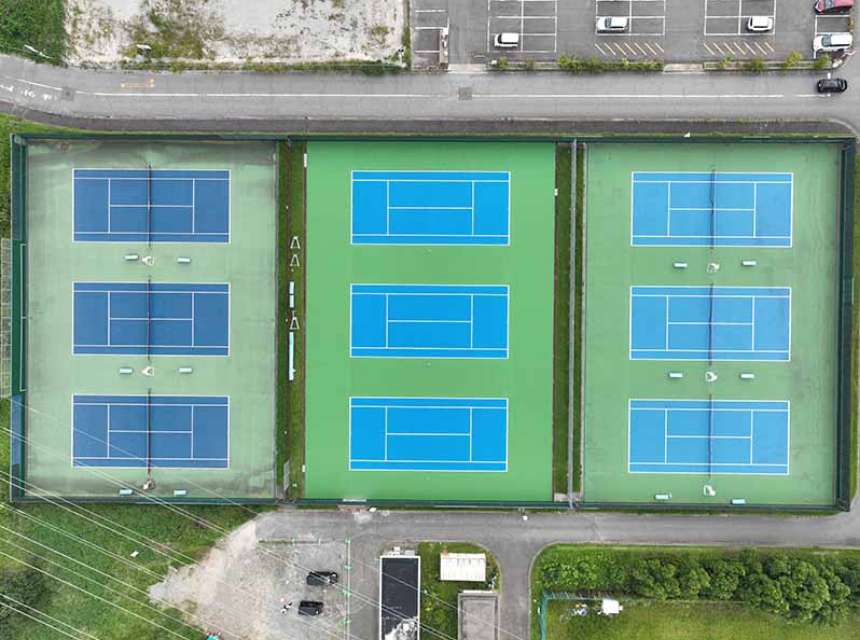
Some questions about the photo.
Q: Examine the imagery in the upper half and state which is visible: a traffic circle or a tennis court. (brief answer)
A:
tennis court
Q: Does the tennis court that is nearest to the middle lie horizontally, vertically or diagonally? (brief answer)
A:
horizontally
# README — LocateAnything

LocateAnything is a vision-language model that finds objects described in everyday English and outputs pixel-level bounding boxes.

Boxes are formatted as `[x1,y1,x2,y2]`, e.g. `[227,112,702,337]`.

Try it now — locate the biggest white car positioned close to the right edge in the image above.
[814,34,851,52]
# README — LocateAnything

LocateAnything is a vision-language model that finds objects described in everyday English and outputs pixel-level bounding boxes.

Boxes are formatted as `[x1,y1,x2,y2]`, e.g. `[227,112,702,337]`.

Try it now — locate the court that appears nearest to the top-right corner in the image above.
[632,172,793,247]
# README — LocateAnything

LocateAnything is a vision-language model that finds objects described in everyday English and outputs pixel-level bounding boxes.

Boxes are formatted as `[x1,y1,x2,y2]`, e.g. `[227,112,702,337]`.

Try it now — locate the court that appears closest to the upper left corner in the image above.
[73,169,230,243]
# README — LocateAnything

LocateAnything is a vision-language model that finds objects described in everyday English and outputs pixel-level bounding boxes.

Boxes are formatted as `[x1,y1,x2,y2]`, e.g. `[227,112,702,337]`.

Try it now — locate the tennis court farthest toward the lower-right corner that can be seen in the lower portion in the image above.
[629,400,790,475]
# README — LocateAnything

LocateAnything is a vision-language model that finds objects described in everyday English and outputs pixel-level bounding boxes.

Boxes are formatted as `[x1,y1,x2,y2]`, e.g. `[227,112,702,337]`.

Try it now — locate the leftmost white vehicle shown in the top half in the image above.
[495,34,519,50]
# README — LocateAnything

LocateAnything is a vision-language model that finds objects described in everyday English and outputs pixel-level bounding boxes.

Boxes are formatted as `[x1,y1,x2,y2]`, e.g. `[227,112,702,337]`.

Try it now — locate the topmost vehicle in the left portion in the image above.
[308,569,338,585]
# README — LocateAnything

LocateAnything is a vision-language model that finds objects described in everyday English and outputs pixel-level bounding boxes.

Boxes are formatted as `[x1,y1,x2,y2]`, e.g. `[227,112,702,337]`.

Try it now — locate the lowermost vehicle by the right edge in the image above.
[815,78,847,93]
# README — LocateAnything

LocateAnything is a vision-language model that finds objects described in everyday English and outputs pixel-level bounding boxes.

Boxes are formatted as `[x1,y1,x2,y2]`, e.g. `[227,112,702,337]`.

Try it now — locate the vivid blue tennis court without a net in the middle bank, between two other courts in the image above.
[350,284,509,359]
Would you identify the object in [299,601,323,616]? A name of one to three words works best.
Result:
car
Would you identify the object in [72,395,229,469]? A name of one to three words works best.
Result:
tennis court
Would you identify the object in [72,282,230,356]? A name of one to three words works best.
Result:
tennis court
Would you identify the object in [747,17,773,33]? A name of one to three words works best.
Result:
car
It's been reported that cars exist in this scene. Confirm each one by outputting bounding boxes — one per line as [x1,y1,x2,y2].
[596,18,629,34]
[814,34,851,52]
[308,569,338,585]
[747,17,773,33]
[299,601,323,616]
[495,34,519,50]
[816,0,852,14]
[815,78,847,93]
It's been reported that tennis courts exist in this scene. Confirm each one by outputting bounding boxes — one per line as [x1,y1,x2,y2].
[632,172,793,247]
[72,395,229,469]
[629,400,790,475]
[630,286,791,361]
[72,282,230,356]
[350,284,509,359]
[73,169,230,243]
[351,170,510,245]
[349,397,509,472]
